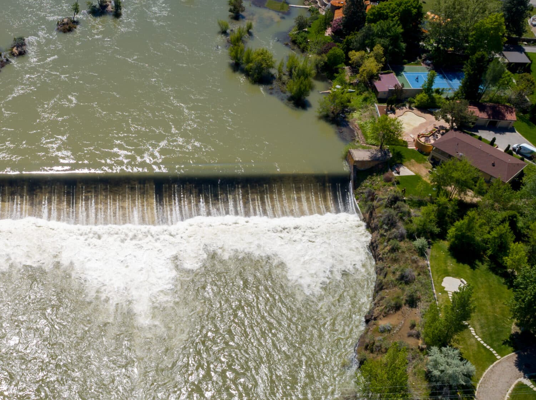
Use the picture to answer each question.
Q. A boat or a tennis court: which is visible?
tennis court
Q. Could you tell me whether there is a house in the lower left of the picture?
No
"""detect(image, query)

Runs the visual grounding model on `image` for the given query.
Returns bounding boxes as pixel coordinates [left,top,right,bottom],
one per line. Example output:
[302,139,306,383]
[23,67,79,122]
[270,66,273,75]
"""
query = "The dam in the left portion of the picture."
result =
[0,178,358,226]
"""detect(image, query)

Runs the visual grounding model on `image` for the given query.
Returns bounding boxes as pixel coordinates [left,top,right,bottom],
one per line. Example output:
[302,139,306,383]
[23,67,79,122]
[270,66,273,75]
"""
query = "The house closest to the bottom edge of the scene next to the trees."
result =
[426,129,525,186]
